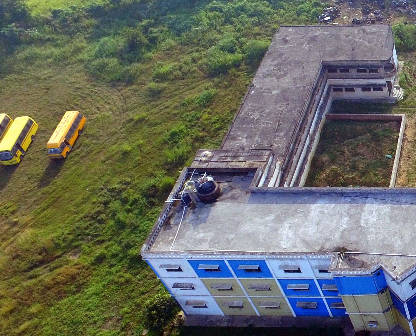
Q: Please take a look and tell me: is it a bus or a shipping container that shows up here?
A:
bus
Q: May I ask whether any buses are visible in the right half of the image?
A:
No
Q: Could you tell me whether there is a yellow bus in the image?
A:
Yes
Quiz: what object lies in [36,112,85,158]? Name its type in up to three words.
bus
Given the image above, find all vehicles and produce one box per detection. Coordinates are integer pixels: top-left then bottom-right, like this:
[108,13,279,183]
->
[36,112,85,158]
[0,112,20,139]
[0,117,43,165]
